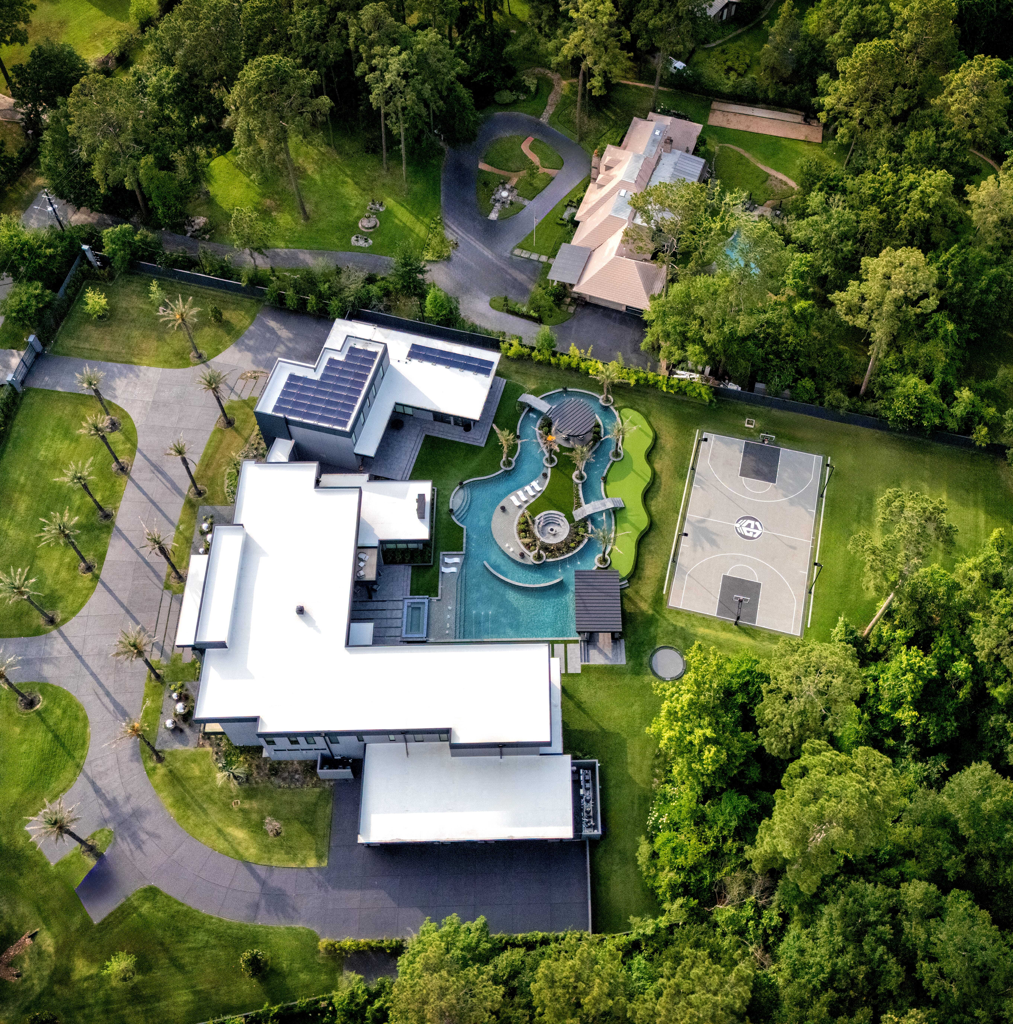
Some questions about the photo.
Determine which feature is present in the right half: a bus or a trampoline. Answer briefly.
trampoline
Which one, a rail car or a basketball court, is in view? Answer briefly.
basketball court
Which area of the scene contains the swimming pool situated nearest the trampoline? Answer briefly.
center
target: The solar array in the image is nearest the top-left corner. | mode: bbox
[270,344,382,427]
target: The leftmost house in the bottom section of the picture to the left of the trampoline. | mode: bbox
[174,438,573,845]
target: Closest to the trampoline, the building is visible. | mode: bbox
[575,569,629,665]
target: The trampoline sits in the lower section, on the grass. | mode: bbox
[649,638,690,679]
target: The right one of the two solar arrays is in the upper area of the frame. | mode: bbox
[404,344,496,377]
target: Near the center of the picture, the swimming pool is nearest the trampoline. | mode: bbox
[426,388,623,642]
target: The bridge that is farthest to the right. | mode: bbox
[572,498,625,521]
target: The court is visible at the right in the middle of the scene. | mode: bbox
[666,429,826,637]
